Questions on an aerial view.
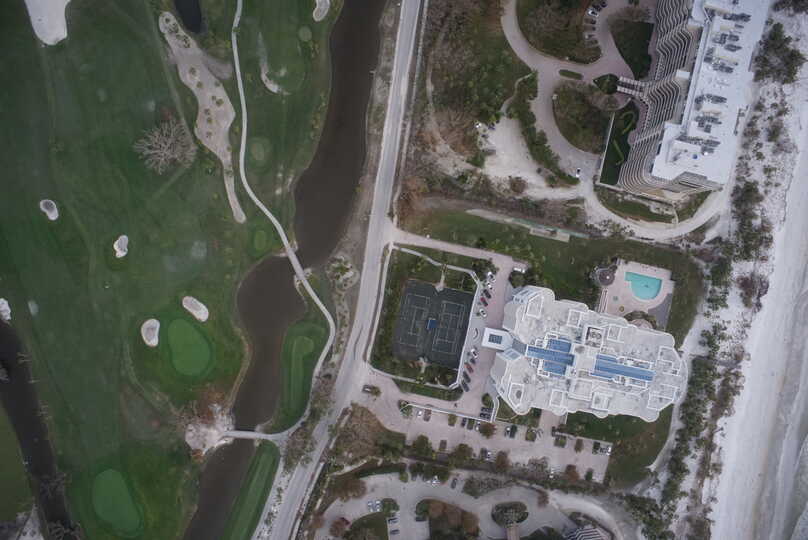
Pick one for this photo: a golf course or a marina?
golf course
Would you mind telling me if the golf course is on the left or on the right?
left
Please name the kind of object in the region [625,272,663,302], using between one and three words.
swimming pool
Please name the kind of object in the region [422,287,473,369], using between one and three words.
tennis court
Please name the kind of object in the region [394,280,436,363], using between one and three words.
tennis court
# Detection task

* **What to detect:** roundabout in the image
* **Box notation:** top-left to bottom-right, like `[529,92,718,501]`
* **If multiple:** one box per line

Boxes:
[480,491,541,533]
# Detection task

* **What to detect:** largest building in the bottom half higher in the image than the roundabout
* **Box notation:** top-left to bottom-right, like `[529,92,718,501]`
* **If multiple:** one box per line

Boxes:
[482,283,689,422]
